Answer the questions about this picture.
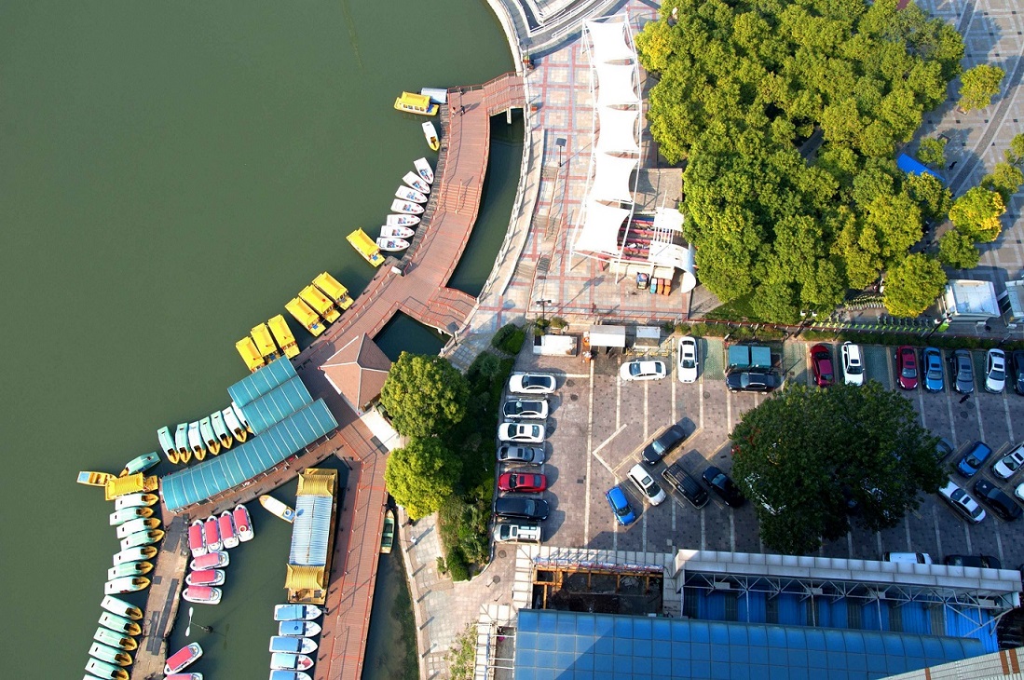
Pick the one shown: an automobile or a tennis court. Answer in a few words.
automobile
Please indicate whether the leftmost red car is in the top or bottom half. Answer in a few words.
bottom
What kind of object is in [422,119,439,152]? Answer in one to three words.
boat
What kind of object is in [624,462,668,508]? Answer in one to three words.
car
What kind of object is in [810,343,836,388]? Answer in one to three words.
car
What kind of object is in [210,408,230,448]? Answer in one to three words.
boat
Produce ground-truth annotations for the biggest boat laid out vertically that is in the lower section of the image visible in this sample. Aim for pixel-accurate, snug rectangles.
[284,466,337,603]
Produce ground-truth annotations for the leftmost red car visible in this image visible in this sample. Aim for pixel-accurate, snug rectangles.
[498,469,547,493]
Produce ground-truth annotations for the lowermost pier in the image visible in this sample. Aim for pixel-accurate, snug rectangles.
[131,639,168,680]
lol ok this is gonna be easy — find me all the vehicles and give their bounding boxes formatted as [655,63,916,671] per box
[881,549,933,565]
[973,479,1024,524]
[894,346,921,390]
[947,479,985,525]
[990,437,1024,480]
[603,485,638,527]
[498,469,547,493]
[921,347,947,393]
[620,358,667,382]
[944,549,1003,570]
[726,370,779,394]
[503,397,549,421]
[498,420,544,444]
[624,462,668,508]
[495,496,549,521]
[640,422,687,465]
[950,350,977,395]
[1010,558,1024,580]
[661,461,709,510]
[810,343,836,388]
[983,348,1009,394]
[839,342,867,385]
[701,466,740,509]
[509,372,556,395]
[494,519,543,545]
[1006,350,1024,397]
[956,438,995,480]
[677,337,700,384]
[498,442,545,466]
